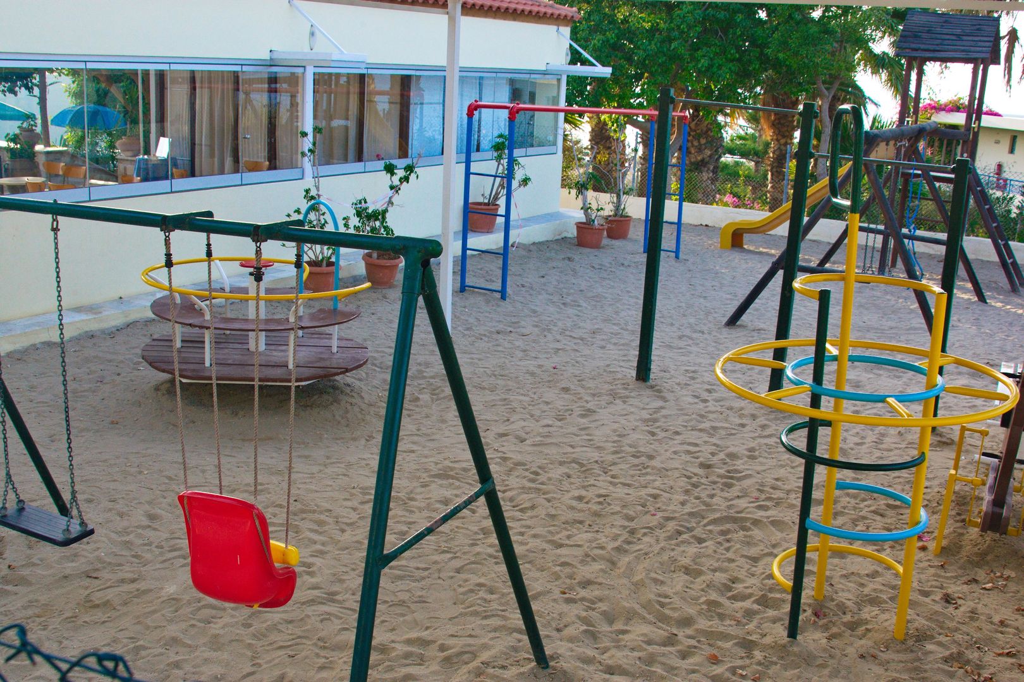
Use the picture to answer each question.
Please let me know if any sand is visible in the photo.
Yes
